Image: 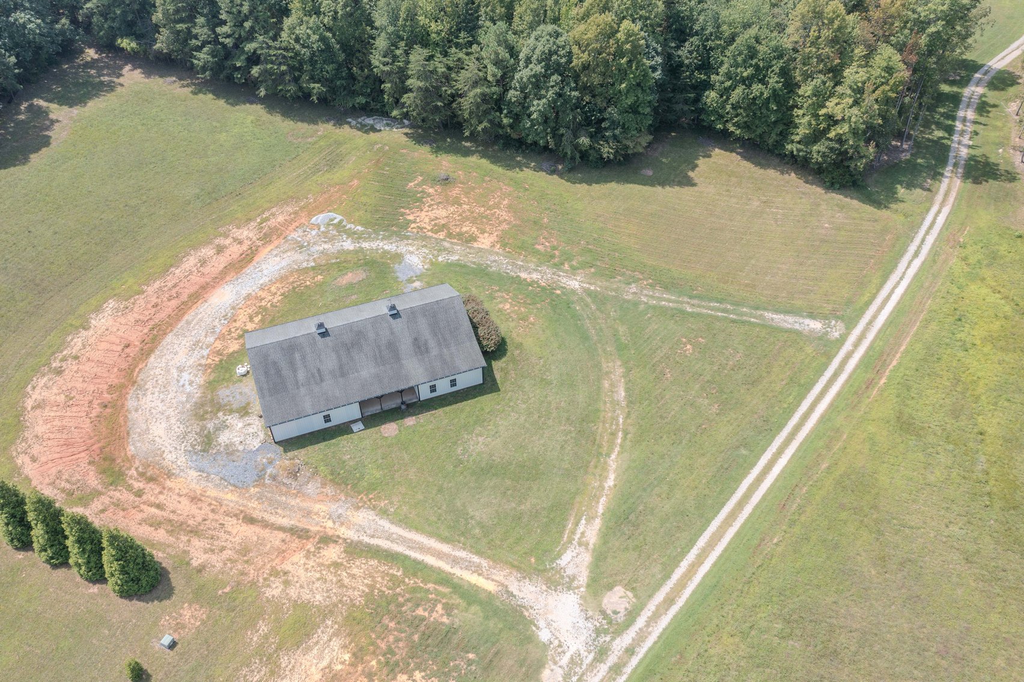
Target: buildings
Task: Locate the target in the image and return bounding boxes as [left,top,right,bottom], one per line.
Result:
[246,284,487,443]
